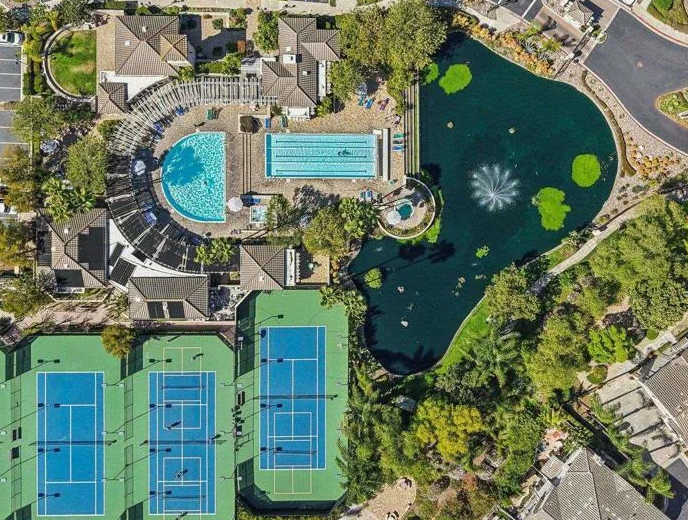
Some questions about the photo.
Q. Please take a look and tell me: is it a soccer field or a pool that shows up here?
pool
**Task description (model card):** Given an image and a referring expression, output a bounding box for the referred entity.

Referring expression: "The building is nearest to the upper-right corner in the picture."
[567,1,593,26]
